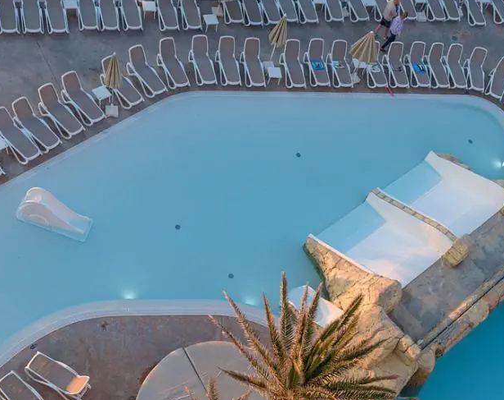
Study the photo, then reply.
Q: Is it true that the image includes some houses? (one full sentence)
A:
No, no house is visible in the view.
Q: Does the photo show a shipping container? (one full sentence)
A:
No, I can't see a single shipping container in this photo.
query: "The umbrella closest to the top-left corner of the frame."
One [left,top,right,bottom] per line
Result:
[101,51,123,118]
